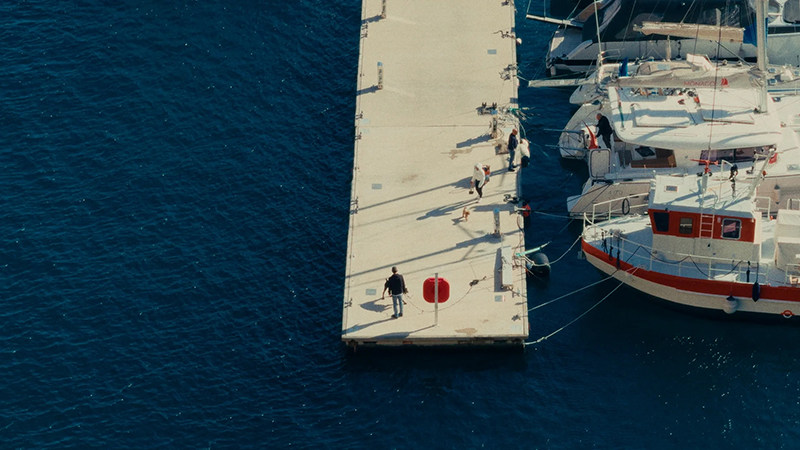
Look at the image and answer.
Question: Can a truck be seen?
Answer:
No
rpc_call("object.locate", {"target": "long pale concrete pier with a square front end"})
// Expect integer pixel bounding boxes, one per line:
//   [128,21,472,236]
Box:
[342,0,528,355]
